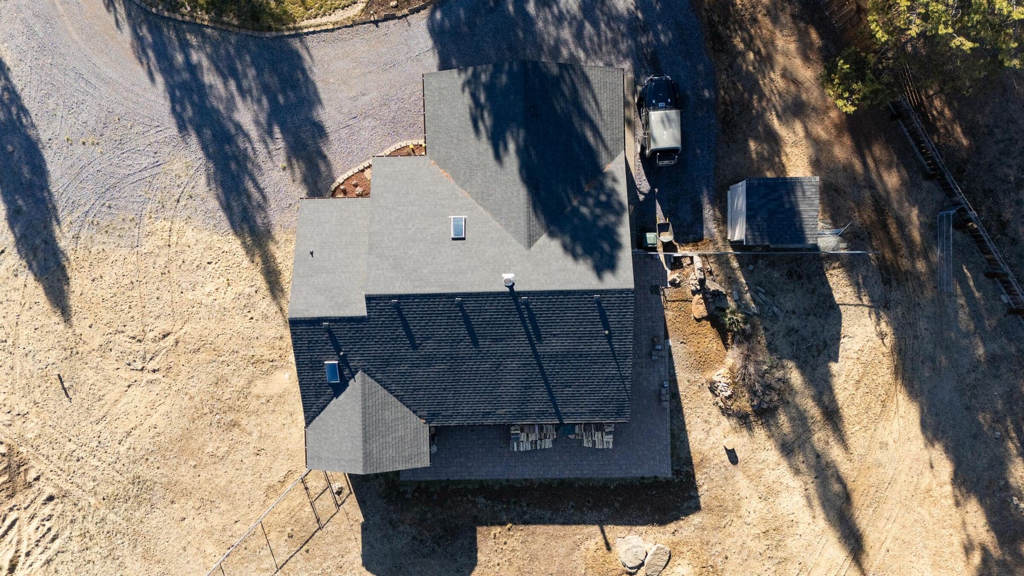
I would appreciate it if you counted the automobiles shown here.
1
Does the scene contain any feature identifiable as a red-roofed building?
No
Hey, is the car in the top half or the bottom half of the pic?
top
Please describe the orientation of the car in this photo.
from top to bottom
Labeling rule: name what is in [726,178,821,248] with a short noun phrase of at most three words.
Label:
shed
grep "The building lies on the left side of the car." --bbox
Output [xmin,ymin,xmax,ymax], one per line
[288,58,636,475]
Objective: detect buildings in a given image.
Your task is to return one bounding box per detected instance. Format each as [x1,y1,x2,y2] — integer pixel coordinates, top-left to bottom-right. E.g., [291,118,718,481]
[726,178,821,248]
[288,58,636,475]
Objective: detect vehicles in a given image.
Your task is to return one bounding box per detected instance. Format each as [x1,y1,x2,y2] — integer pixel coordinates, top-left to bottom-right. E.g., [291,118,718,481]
[636,71,683,164]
